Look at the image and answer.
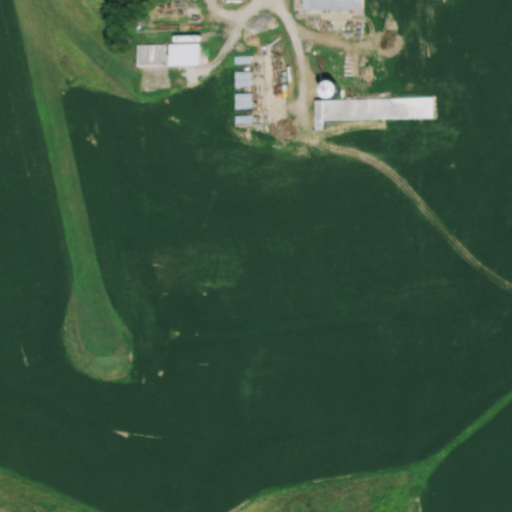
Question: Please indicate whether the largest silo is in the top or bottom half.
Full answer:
The top half of the photo is where the largest silo is.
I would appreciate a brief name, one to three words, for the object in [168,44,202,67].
shed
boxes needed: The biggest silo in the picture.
[317,80,340,100]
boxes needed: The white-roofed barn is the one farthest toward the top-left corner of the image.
[137,45,168,68]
